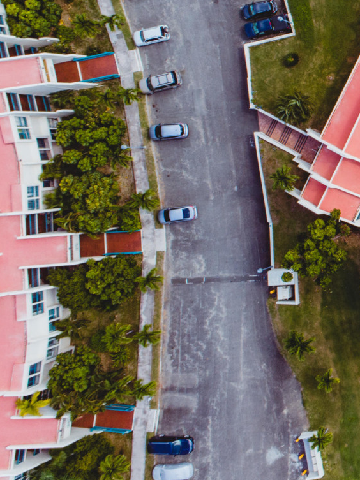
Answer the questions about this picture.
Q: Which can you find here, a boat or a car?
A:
car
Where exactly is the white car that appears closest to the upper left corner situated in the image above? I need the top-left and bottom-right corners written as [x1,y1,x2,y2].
[132,26,172,45]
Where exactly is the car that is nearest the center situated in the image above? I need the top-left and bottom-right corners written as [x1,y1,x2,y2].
[158,205,200,225]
